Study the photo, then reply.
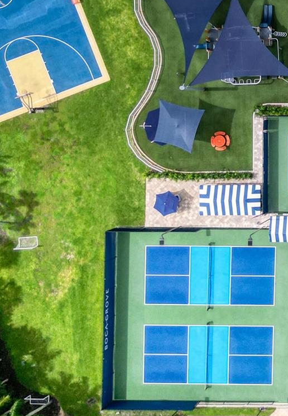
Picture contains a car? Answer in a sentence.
No, there is no car in the image.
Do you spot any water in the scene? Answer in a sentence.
No, no water is visible.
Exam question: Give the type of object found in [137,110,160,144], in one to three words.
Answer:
umbrella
